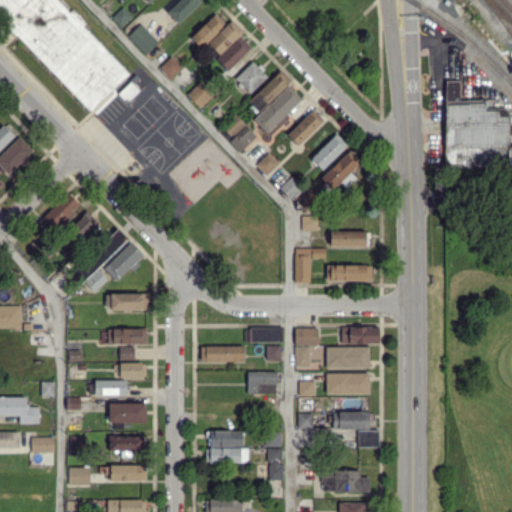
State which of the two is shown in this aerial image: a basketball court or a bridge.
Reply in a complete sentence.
There is a basketball court in the scene.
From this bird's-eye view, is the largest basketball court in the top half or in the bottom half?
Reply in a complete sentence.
The largest basketball court is in the top half of the image.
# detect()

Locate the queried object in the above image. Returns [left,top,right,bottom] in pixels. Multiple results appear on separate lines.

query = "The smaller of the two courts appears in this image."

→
[123,95,168,140]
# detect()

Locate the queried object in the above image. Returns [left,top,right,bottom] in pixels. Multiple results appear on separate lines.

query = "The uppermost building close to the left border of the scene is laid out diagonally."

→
[0,0,128,116]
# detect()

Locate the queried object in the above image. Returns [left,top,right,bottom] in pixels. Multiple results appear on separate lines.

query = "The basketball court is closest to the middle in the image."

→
[138,112,201,173]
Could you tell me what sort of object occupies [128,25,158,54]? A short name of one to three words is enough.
building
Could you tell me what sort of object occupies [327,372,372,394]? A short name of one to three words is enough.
house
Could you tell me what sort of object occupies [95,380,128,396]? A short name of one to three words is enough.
building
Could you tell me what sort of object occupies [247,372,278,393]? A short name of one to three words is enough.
house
